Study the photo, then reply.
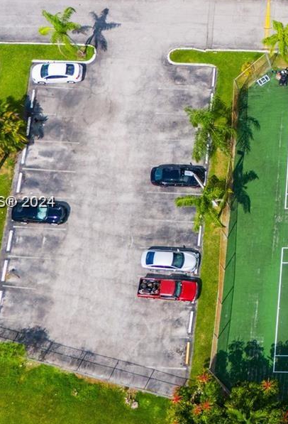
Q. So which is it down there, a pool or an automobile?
automobile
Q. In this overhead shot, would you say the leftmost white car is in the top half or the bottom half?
top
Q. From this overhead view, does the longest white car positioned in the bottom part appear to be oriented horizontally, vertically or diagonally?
horizontally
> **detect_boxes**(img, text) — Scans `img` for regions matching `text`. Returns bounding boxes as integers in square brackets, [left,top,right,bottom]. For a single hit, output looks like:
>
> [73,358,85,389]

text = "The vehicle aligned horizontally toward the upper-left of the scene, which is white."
[30,61,84,84]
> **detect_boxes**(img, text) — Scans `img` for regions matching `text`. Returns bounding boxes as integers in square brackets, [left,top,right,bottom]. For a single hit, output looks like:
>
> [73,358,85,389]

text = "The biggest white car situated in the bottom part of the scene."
[140,249,199,274]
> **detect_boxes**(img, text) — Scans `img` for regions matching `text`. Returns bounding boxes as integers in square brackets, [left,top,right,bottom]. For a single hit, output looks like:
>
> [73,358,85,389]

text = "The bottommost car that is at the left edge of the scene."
[10,201,69,225]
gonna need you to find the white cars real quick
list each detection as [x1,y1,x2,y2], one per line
[30,61,84,84]
[140,249,199,274]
